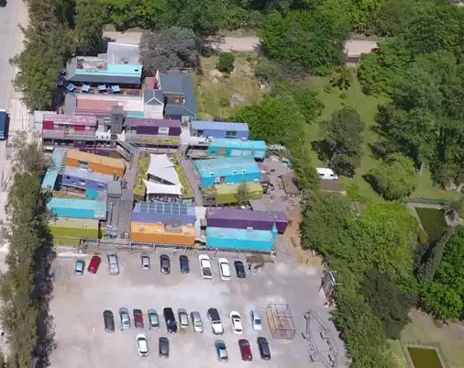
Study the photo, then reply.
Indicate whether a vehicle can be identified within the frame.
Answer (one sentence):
Yes, a vehicle can be made out from above.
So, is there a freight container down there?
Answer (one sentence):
Yes, a freight container can be made out from above.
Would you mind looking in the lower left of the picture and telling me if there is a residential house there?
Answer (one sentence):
No, no residential house appears in the lower left of the picture.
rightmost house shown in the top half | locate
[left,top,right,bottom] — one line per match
[158,68,198,128]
